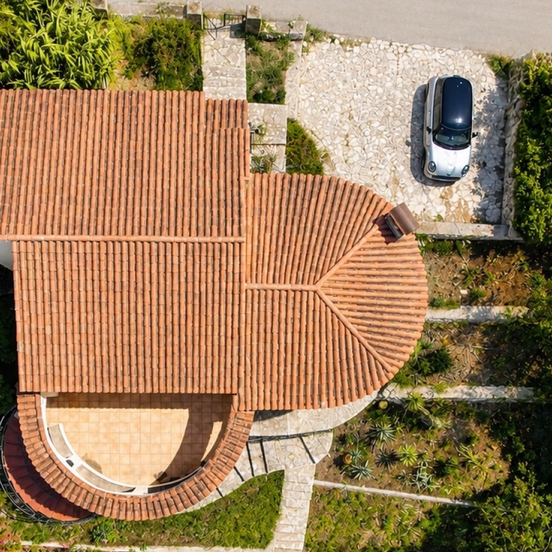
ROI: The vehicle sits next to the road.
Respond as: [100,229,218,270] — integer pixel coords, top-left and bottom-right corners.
[421,67,486,183]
